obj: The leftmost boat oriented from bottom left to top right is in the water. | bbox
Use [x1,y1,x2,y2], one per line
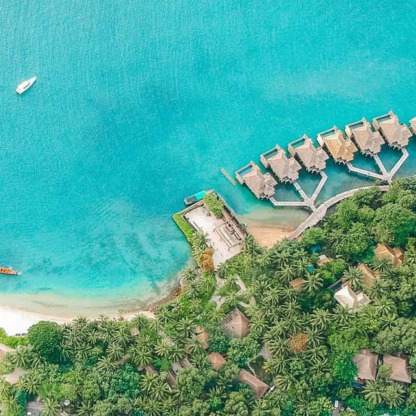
[14,76,36,97]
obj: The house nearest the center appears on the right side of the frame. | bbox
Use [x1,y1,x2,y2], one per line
[233,164,278,205]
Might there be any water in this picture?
Yes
